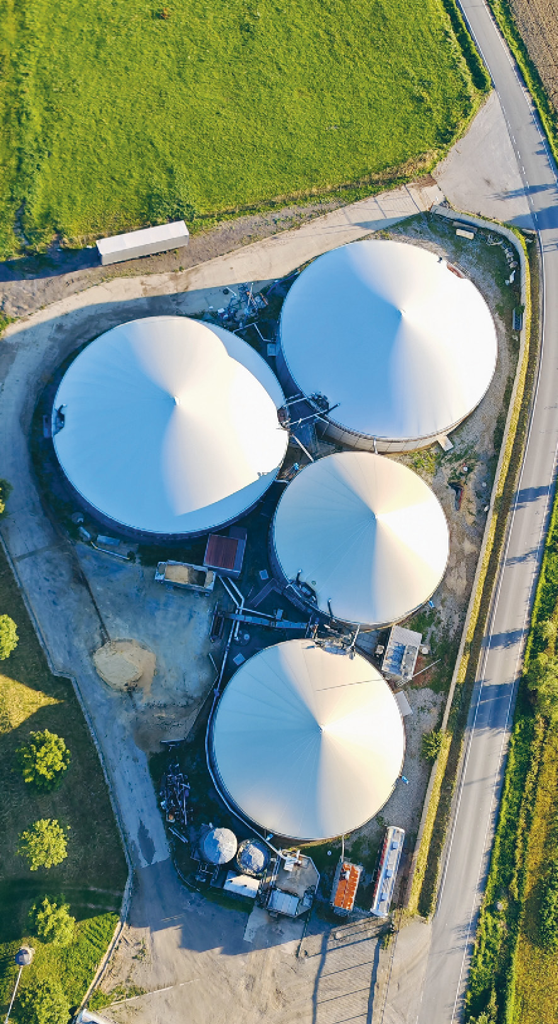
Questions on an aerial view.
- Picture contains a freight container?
Yes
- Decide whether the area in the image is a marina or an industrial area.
industrial area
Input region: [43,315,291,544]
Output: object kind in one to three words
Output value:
storage tank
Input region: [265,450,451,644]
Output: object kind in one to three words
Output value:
storage tank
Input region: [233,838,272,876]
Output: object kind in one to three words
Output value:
silo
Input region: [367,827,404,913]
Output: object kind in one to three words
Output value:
trailer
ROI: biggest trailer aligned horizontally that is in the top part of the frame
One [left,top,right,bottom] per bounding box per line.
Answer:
[97,221,188,264]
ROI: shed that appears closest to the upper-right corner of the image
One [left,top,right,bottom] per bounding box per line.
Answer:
[290,421,313,451]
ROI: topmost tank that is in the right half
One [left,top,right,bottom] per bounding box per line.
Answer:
[265,238,499,454]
